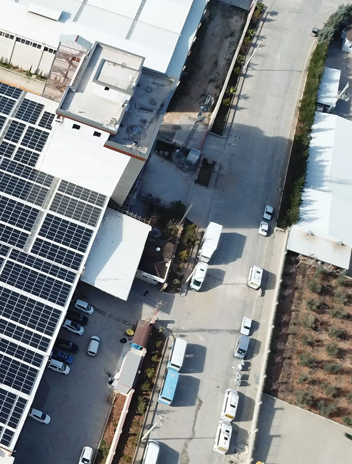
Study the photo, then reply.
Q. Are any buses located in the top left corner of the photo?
No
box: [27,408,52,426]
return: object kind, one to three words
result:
car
